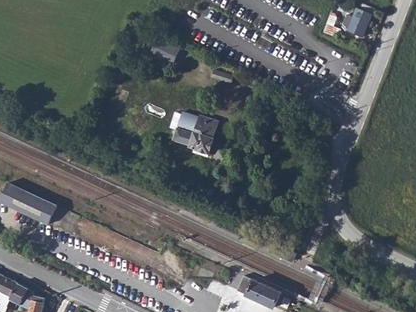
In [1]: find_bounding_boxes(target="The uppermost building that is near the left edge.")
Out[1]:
[0,183,56,225]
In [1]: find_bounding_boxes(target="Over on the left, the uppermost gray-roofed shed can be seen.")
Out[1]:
[152,38,180,60]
